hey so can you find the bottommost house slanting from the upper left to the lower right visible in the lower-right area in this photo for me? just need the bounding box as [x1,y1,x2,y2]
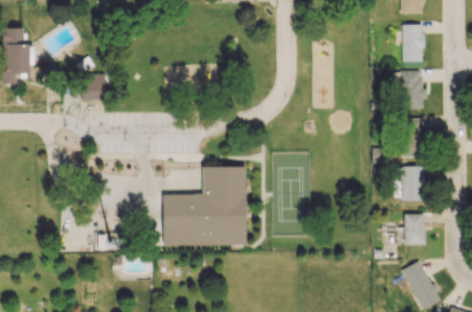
[402,261,442,310]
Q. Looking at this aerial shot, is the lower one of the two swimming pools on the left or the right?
left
